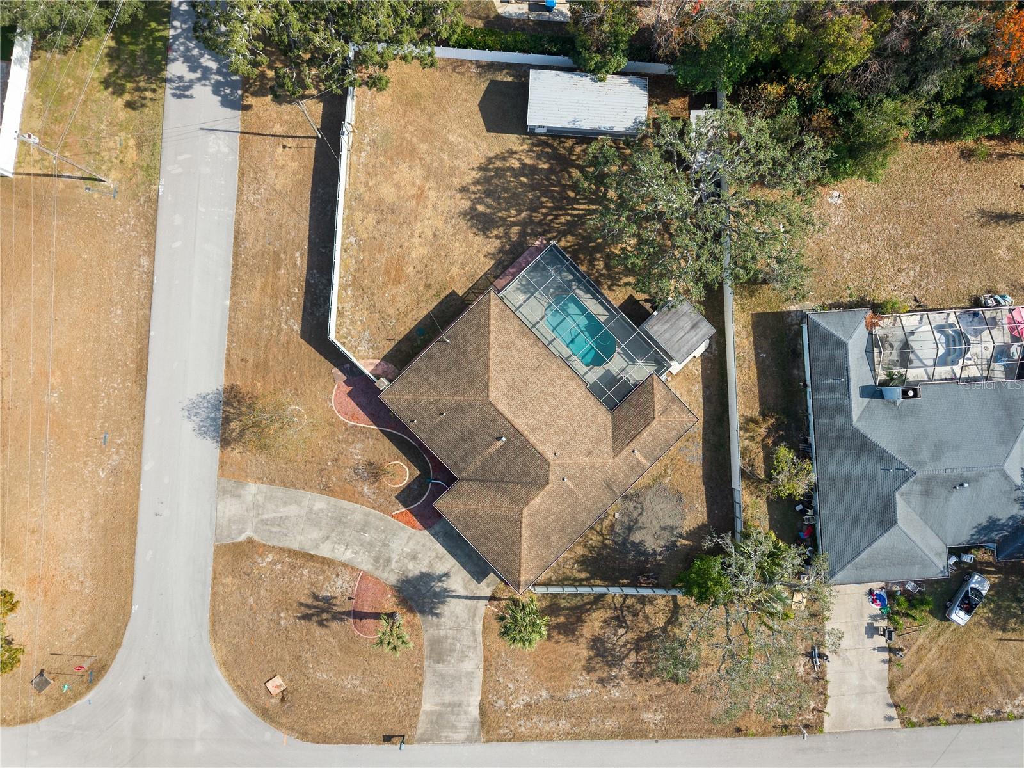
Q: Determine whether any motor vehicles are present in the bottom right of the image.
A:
Yes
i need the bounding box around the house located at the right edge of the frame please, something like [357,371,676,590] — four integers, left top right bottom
[805,306,1024,585]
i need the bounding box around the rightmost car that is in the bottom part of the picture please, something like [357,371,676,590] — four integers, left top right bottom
[950,573,991,627]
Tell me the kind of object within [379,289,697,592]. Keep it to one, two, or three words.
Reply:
house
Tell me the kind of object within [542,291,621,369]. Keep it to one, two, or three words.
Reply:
swimming pool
